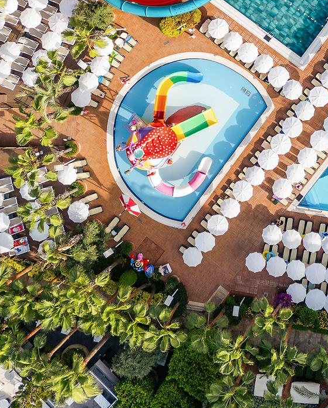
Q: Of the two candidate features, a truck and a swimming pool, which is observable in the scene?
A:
swimming pool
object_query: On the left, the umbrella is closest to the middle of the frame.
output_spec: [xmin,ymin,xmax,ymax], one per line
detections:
[119,194,141,216]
